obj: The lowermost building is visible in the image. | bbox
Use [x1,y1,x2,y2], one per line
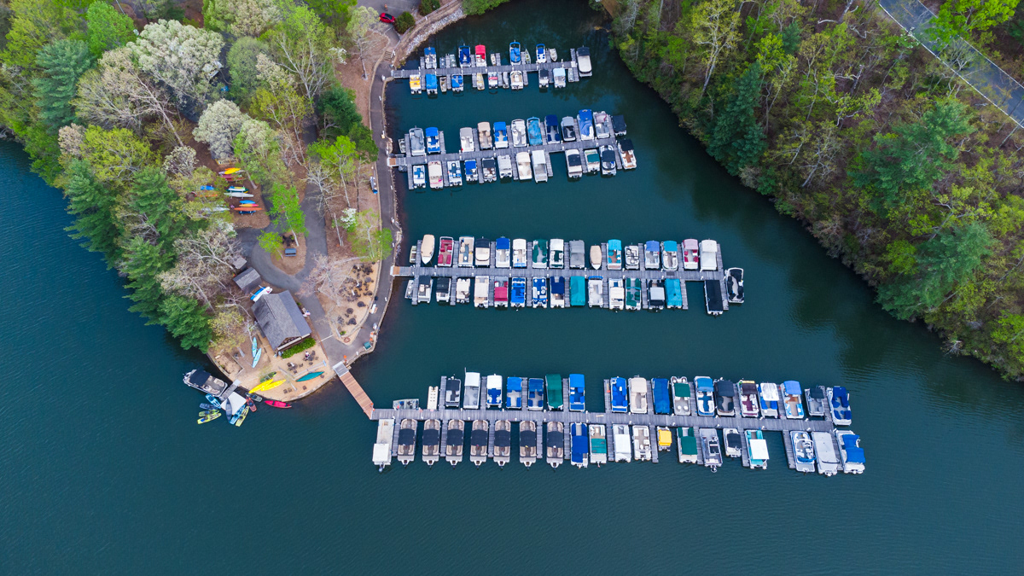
[253,291,315,356]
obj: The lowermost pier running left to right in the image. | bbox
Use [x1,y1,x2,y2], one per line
[369,376,843,471]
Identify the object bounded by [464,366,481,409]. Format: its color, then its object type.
white boat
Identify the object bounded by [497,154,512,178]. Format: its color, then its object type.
white boat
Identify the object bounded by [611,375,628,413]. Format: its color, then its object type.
blue boat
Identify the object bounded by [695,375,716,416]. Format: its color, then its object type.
blue boat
